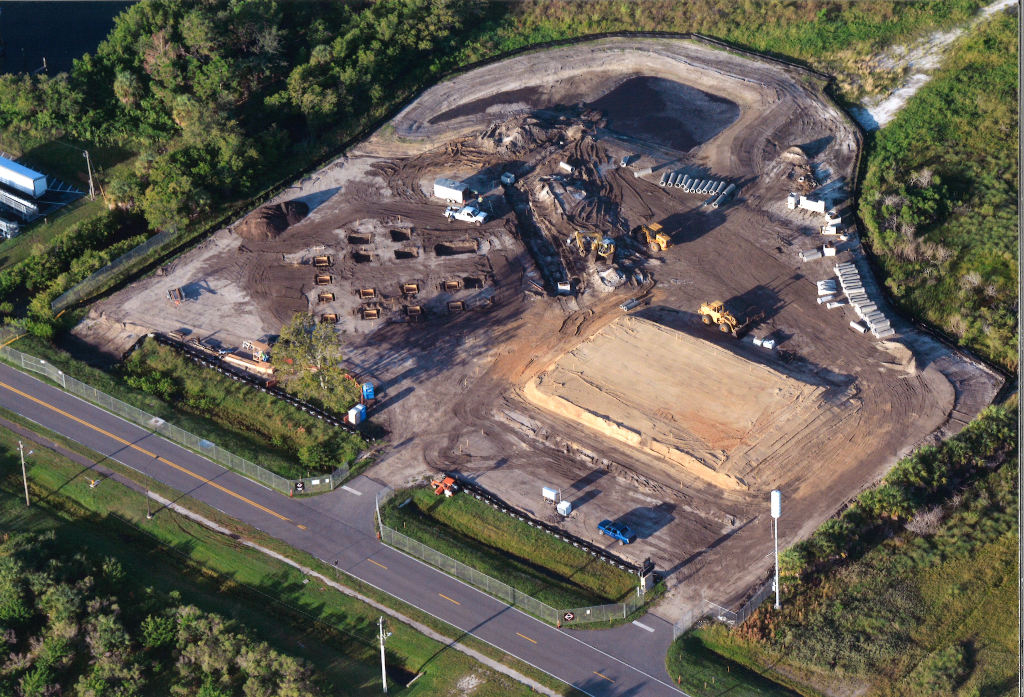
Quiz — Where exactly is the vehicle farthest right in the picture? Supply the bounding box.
[698,300,756,339]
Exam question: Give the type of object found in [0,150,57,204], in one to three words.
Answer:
trailer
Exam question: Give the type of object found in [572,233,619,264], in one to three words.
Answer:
work vehicle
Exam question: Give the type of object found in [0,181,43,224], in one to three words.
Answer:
trailer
